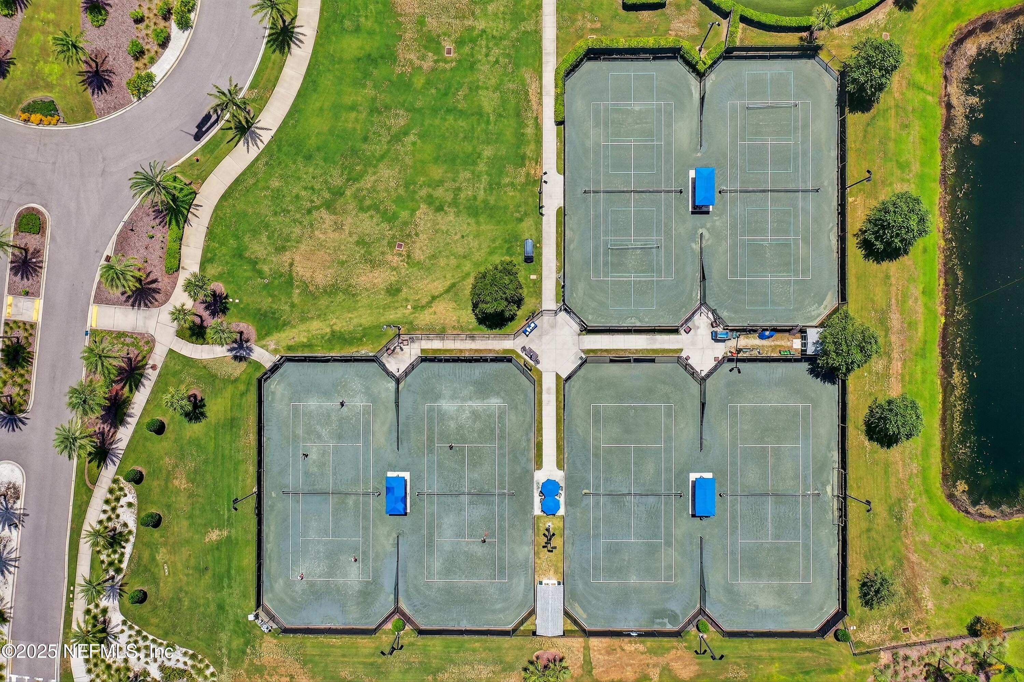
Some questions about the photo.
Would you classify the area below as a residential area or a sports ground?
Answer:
sports ground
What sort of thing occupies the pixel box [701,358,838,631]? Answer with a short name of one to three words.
tennis court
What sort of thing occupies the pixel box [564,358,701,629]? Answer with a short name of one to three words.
tennis court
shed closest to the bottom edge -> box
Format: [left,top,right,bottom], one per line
[536,581,563,636]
